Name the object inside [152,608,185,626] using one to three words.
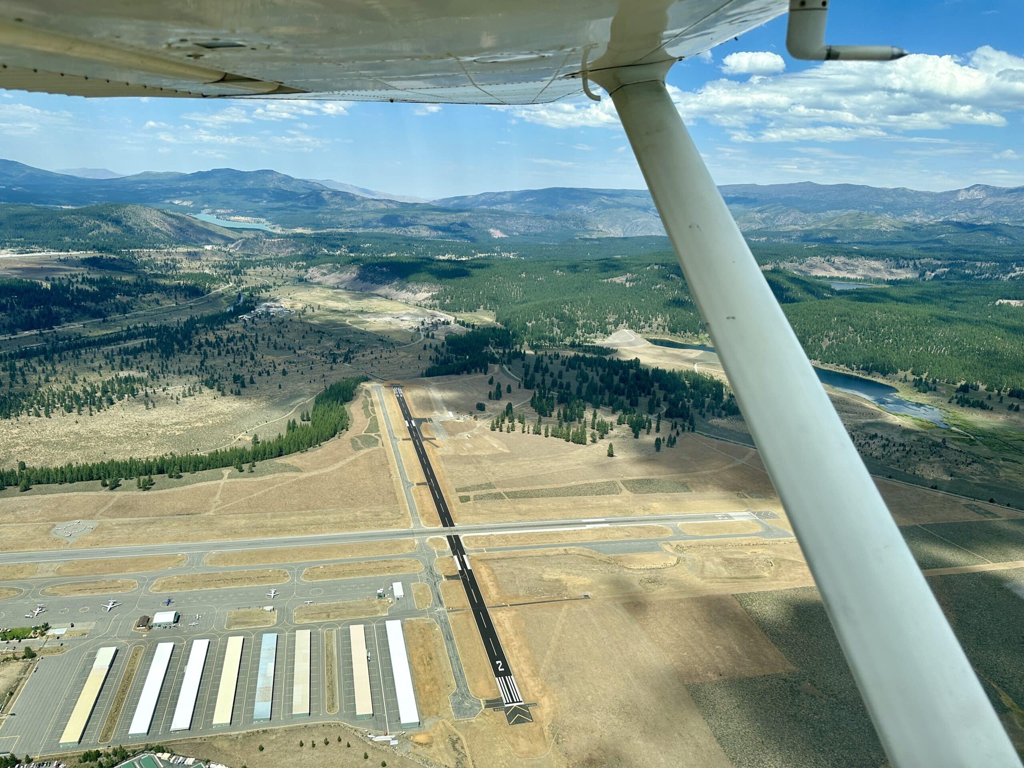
hangar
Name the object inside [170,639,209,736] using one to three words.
hangar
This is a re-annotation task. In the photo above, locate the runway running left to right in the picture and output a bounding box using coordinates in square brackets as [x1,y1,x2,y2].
[0,511,759,564]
